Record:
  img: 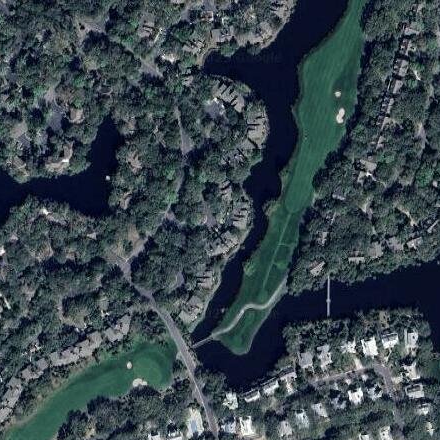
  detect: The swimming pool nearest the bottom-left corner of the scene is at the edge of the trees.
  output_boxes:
[186,407,203,436]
